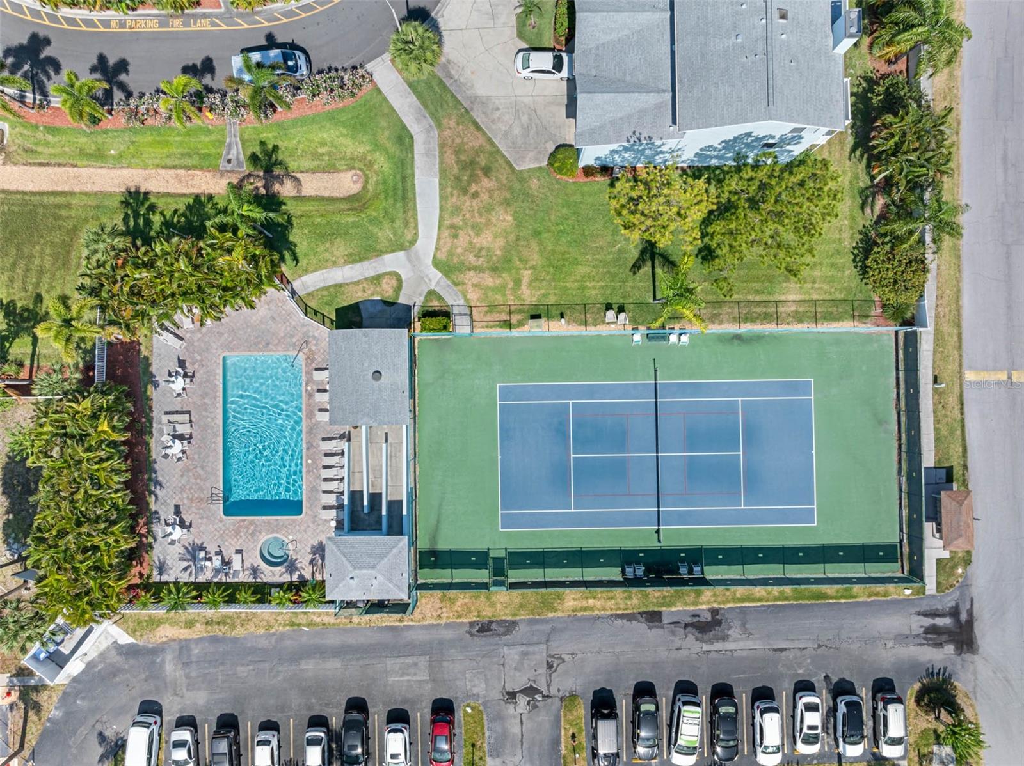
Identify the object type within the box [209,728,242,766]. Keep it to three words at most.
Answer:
truck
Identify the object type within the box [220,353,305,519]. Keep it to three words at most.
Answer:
swimming pool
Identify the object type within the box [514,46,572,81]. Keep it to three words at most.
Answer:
car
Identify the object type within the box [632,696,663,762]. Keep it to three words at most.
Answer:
car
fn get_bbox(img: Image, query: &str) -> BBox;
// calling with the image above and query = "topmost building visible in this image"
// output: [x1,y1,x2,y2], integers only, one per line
[571,0,862,167]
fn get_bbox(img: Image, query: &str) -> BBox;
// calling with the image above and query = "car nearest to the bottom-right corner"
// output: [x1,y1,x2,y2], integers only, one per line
[873,692,911,760]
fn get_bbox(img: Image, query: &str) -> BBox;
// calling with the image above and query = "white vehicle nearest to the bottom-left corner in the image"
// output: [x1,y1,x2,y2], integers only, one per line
[127,713,165,766]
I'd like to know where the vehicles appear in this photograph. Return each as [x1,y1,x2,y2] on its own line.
[514,46,572,81]
[304,726,331,766]
[384,723,412,766]
[710,697,743,761]
[254,730,282,766]
[426,713,457,766]
[591,705,622,766]
[338,711,371,766]
[170,726,200,766]
[873,692,911,760]
[209,728,242,766]
[791,692,825,755]
[751,700,785,764]
[127,713,165,766]
[632,696,663,762]
[670,693,703,764]
[833,695,868,758]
